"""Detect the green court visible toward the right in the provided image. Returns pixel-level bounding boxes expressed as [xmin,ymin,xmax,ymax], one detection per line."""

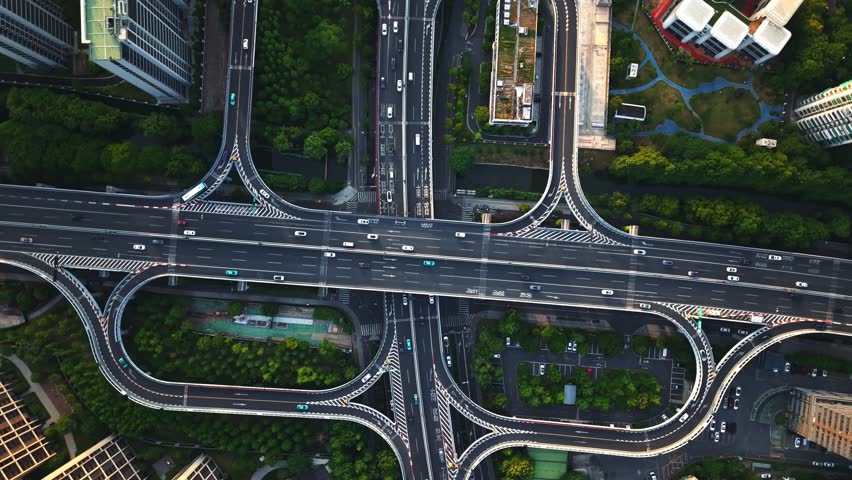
[527,448,569,480]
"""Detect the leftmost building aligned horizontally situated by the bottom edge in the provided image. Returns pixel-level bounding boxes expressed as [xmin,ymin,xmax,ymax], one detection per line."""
[31,432,143,480]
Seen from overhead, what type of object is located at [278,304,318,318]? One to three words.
shed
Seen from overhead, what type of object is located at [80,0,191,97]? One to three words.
building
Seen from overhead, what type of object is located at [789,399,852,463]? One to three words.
building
